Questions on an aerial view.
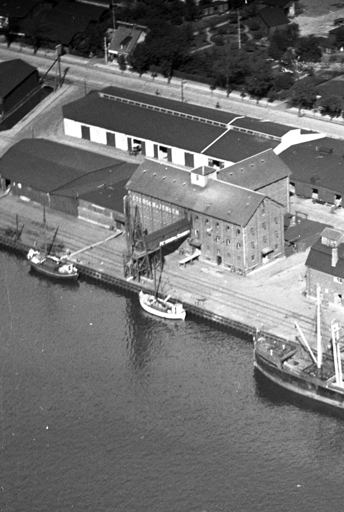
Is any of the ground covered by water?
Yes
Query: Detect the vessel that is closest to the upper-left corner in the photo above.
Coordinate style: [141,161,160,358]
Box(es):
[26,215,83,283]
